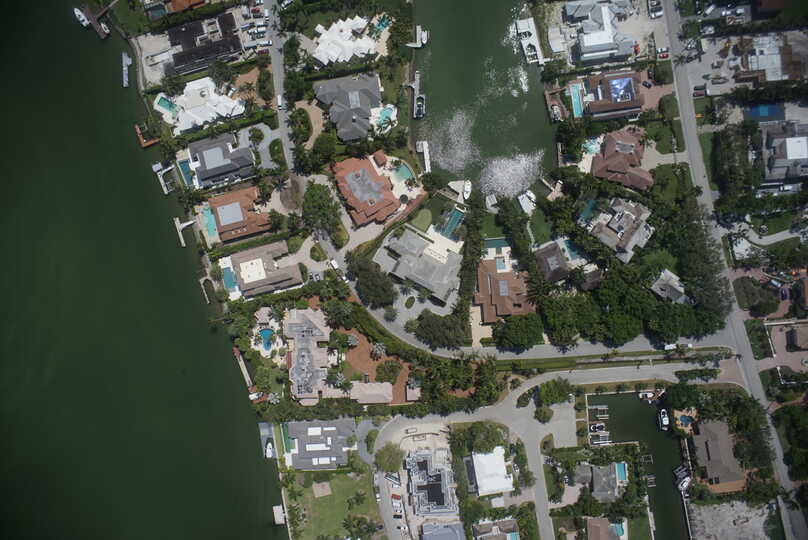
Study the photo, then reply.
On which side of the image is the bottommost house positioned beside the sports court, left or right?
right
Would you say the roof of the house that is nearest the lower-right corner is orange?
No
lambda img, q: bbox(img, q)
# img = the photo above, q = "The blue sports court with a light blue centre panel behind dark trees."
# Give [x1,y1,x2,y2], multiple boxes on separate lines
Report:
[744,104,785,121]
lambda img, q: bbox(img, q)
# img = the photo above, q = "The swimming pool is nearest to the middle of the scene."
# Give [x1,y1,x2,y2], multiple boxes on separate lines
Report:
[440,208,465,238]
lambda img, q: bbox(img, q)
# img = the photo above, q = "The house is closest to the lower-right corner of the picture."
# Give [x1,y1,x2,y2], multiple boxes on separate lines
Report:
[691,418,743,487]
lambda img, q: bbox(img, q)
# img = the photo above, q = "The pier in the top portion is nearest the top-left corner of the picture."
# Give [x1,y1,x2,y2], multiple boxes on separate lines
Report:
[82,0,118,38]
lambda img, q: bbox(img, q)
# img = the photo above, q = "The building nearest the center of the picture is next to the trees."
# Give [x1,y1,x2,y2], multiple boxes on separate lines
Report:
[381,227,473,313]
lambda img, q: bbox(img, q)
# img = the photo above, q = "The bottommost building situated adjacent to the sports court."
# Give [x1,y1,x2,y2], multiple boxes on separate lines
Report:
[759,124,808,186]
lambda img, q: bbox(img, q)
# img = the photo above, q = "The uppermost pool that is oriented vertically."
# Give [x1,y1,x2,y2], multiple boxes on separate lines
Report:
[570,83,583,118]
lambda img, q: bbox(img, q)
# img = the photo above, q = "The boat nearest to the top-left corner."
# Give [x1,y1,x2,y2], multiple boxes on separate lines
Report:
[74,9,89,28]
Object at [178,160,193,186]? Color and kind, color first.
blue swimming pool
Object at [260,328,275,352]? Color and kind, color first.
blue swimming pool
